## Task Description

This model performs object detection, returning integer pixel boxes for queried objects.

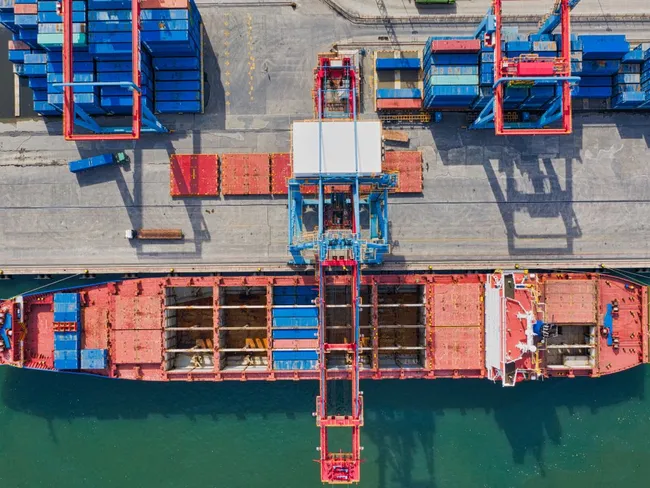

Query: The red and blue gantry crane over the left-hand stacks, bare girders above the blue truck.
[50,0,183,138]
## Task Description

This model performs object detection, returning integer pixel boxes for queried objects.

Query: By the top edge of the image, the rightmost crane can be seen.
[453,0,583,135]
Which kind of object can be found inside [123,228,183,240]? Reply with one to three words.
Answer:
vehicle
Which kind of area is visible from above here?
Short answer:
port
